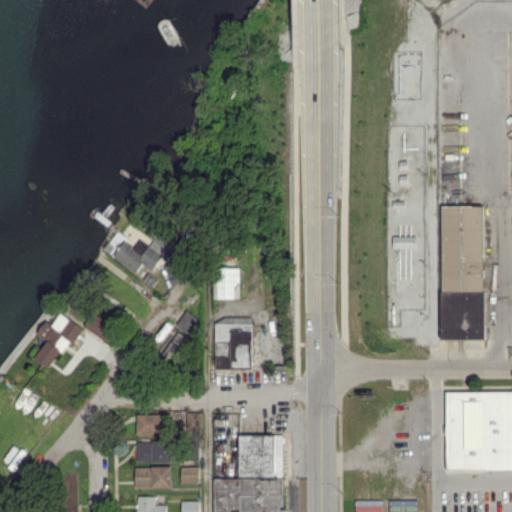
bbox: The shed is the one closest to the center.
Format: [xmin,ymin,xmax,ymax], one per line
[214,268,240,300]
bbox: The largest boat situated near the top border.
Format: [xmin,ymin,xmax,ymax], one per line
[162,19,185,48]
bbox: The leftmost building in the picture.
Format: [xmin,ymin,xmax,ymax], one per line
[32,313,84,370]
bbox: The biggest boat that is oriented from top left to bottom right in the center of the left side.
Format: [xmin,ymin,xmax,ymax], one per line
[92,212,114,229]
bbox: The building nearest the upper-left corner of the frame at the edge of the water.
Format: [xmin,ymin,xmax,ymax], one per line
[104,225,166,276]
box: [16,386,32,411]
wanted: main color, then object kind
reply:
white boat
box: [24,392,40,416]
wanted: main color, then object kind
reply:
white boat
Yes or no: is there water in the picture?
Yes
